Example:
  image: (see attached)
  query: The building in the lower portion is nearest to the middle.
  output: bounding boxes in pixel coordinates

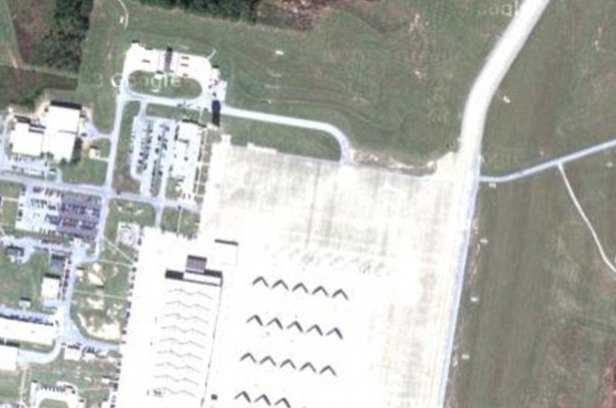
[212,243,238,267]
